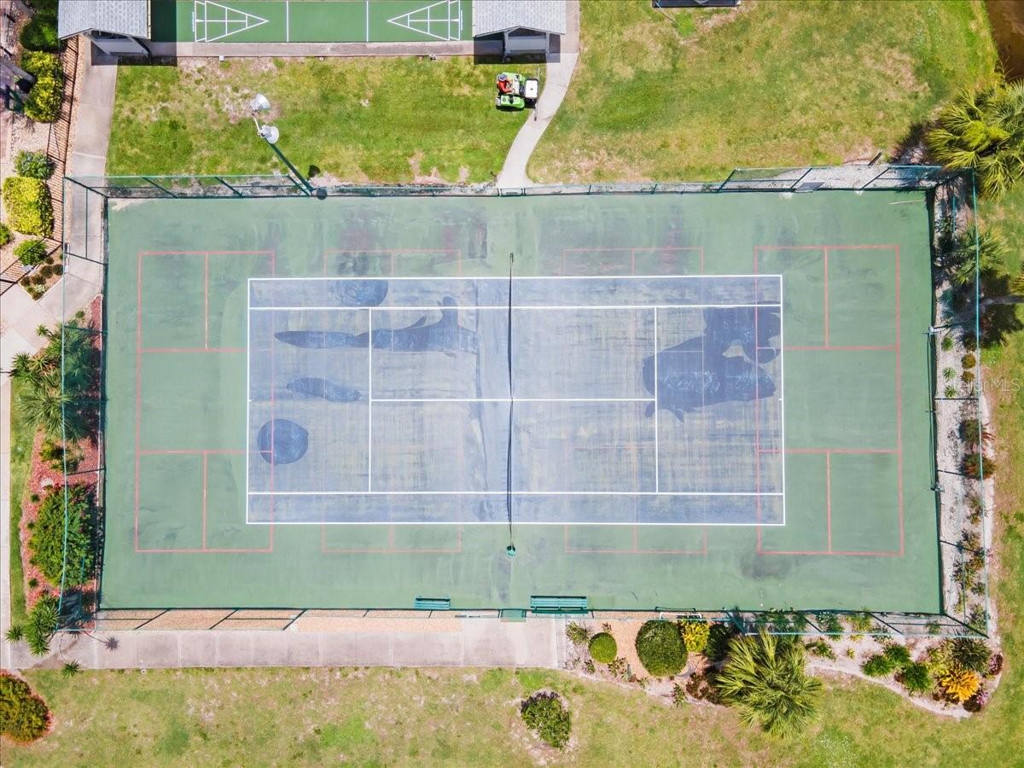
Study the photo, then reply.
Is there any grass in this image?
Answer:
Yes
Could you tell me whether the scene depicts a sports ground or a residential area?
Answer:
sports ground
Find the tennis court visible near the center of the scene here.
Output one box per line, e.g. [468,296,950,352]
[99,189,942,613]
